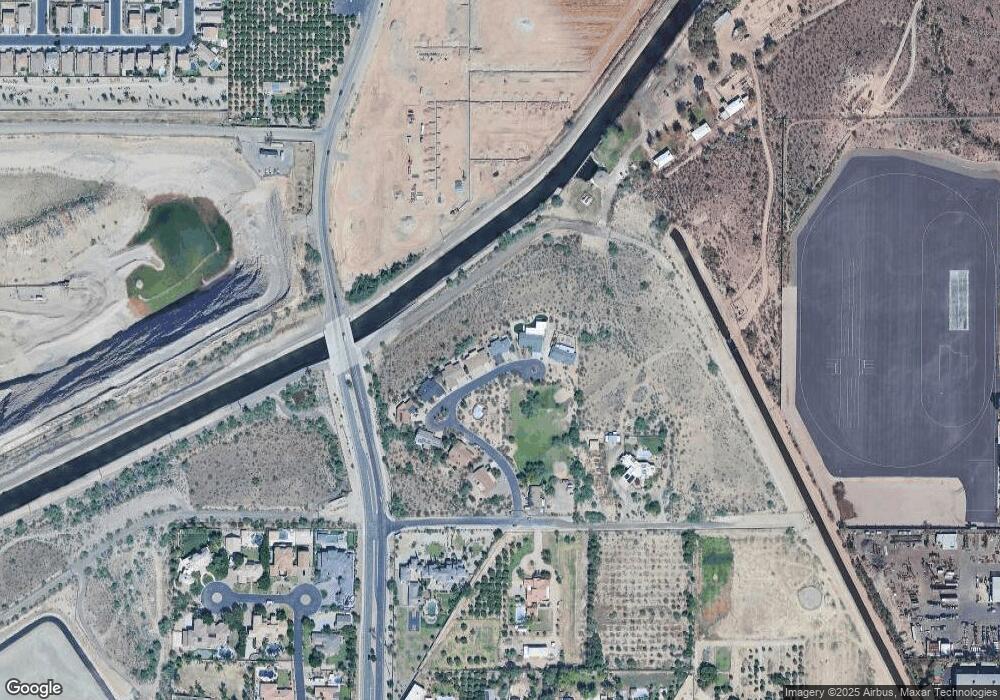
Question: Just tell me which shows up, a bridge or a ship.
bridge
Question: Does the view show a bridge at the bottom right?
No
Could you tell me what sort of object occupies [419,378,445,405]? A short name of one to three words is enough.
house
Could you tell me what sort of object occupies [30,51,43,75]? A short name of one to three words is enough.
house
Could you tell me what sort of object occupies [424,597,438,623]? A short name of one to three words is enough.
swimming pool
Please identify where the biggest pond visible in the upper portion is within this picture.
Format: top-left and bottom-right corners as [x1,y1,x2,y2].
[127,196,232,313]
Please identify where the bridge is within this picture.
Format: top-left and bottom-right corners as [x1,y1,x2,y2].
[325,316,362,377]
